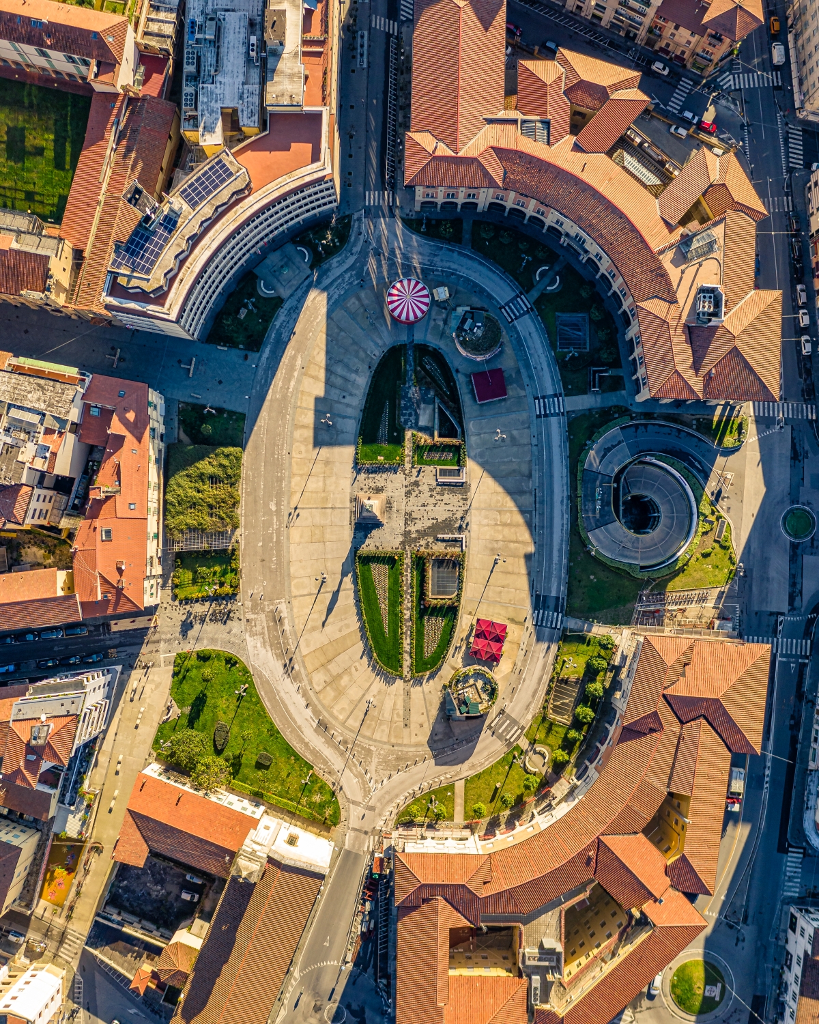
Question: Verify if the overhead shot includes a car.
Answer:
Yes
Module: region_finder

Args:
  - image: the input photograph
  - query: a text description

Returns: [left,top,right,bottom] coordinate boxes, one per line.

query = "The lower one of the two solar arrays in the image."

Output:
[111,228,185,270]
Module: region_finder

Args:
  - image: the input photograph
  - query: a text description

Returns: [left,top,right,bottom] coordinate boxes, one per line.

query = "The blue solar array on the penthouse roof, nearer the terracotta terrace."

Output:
[179,158,230,207]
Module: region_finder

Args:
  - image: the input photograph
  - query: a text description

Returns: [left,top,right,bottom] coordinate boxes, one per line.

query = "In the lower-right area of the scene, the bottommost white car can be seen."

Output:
[648,974,661,996]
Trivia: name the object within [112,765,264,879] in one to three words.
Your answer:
building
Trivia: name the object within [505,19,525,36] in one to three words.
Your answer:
car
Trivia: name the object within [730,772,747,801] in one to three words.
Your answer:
vehicle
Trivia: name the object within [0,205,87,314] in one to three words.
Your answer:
house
